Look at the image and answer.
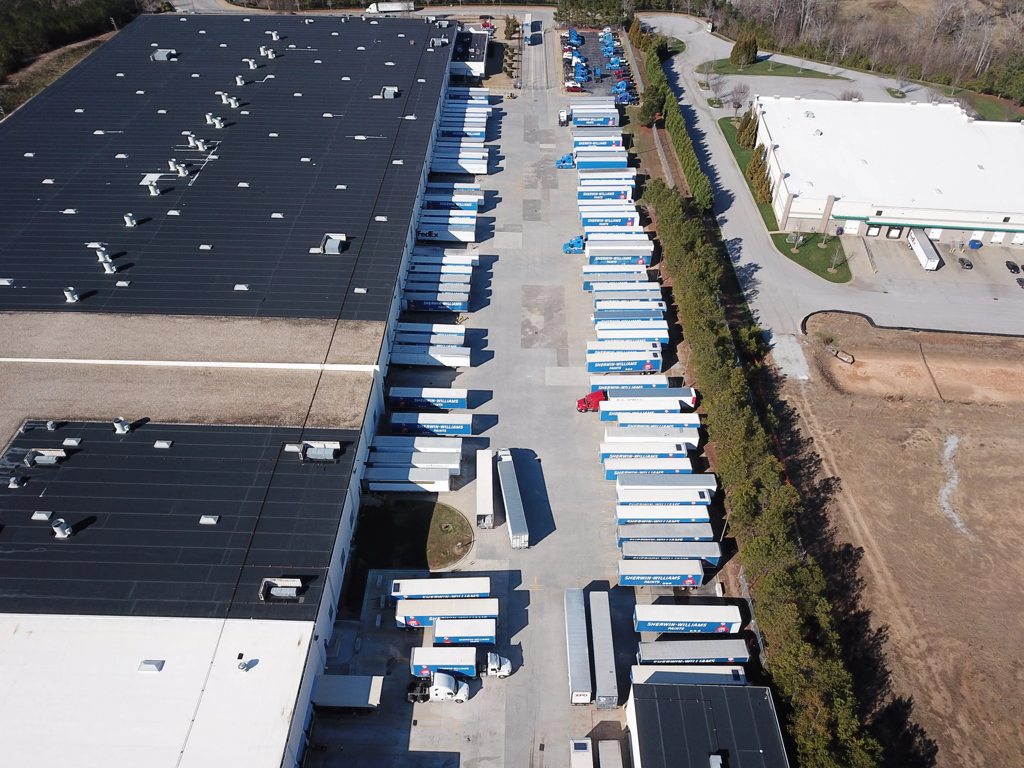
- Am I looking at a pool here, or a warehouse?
warehouse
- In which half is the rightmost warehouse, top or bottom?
top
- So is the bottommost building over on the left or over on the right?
right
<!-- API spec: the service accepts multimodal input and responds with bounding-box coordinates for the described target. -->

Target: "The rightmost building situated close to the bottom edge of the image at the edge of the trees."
[628,684,789,768]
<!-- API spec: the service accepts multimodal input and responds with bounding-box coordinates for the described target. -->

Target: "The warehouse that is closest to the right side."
[748,94,1024,246]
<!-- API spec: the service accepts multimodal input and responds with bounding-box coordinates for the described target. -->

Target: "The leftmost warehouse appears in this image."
[0,13,455,768]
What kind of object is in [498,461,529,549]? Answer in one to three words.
trailer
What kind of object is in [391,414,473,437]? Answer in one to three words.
trailer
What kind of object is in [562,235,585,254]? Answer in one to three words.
vehicle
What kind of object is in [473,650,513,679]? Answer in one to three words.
truck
